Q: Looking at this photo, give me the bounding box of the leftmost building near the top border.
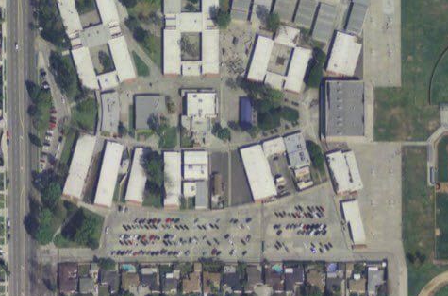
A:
[59,0,135,93]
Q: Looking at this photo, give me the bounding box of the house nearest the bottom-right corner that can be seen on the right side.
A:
[367,264,385,287]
